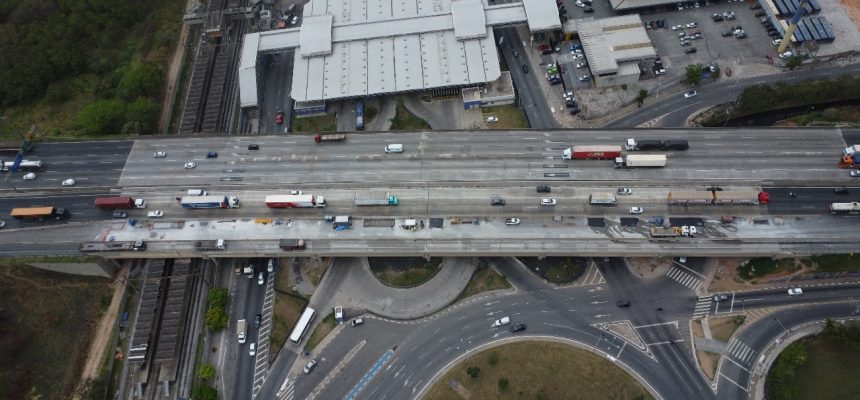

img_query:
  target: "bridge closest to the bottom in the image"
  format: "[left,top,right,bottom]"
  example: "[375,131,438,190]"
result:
[0,124,860,271]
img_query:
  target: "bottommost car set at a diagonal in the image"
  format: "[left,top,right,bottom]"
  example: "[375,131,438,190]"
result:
[302,357,319,375]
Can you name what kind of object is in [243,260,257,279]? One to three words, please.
vehicle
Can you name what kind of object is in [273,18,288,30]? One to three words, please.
vehicle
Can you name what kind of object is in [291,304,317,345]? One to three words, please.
bus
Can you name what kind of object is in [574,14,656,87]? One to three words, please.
building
